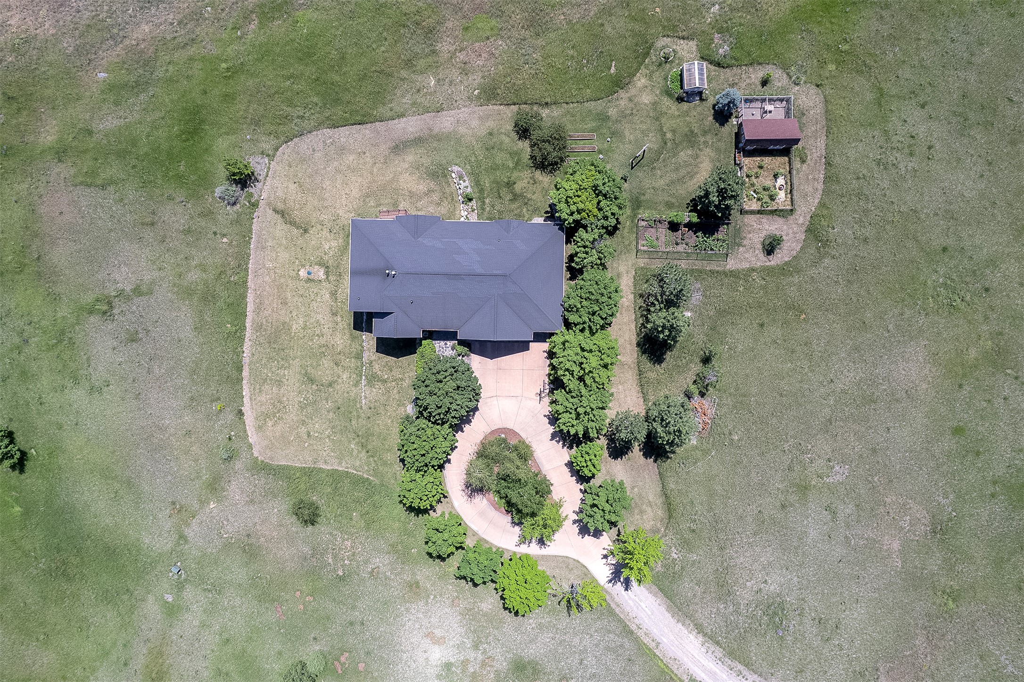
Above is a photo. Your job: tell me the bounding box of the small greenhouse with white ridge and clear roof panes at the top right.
[681,61,707,94]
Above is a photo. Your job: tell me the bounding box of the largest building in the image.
[348,214,566,341]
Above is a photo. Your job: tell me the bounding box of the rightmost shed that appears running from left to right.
[739,119,801,149]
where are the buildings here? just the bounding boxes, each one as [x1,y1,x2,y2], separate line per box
[739,119,801,149]
[681,61,707,94]
[348,214,566,341]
